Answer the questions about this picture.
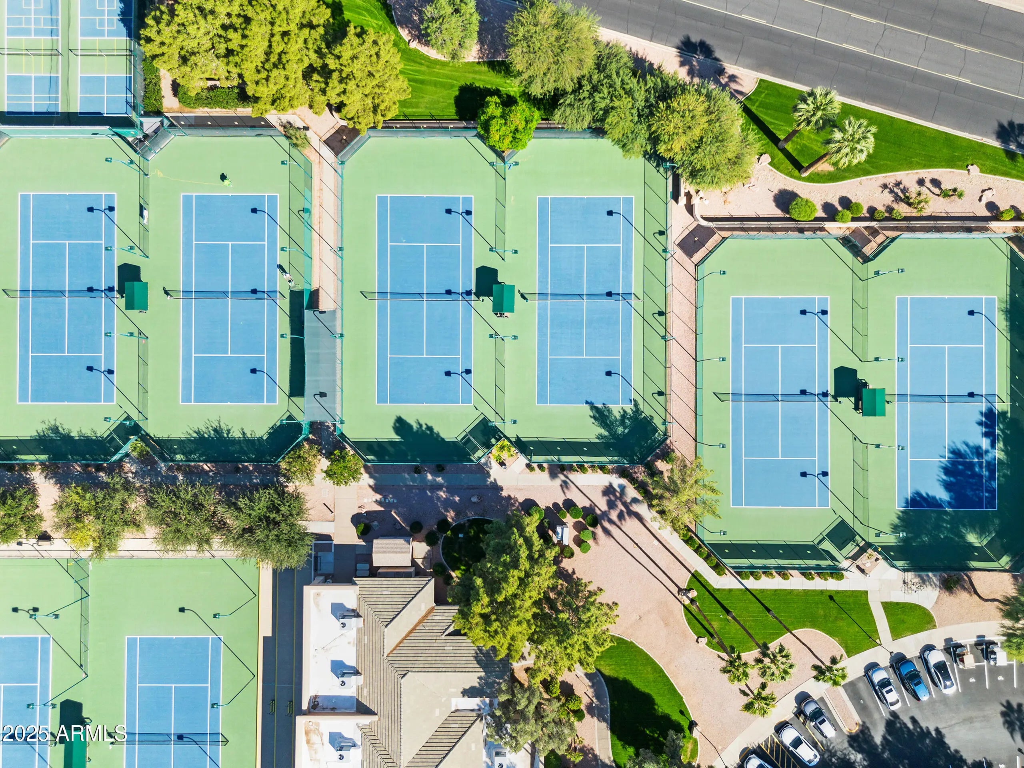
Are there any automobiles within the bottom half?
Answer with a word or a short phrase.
Yes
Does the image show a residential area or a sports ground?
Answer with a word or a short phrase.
sports ground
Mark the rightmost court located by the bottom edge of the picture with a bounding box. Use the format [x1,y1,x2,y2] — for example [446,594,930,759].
[88,559,257,768]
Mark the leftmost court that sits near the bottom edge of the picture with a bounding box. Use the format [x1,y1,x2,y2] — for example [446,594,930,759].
[0,559,88,768]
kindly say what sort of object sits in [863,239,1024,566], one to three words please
tennis court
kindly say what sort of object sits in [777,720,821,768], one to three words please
car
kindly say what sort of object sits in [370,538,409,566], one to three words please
shed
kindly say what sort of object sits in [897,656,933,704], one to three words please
car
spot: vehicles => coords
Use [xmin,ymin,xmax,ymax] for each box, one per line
[954,646,976,670]
[924,646,959,697]
[744,751,768,768]
[986,644,1007,668]
[897,656,933,704]
[866,665,902,713]
[777,720,821,768]
[801,695,838,741]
